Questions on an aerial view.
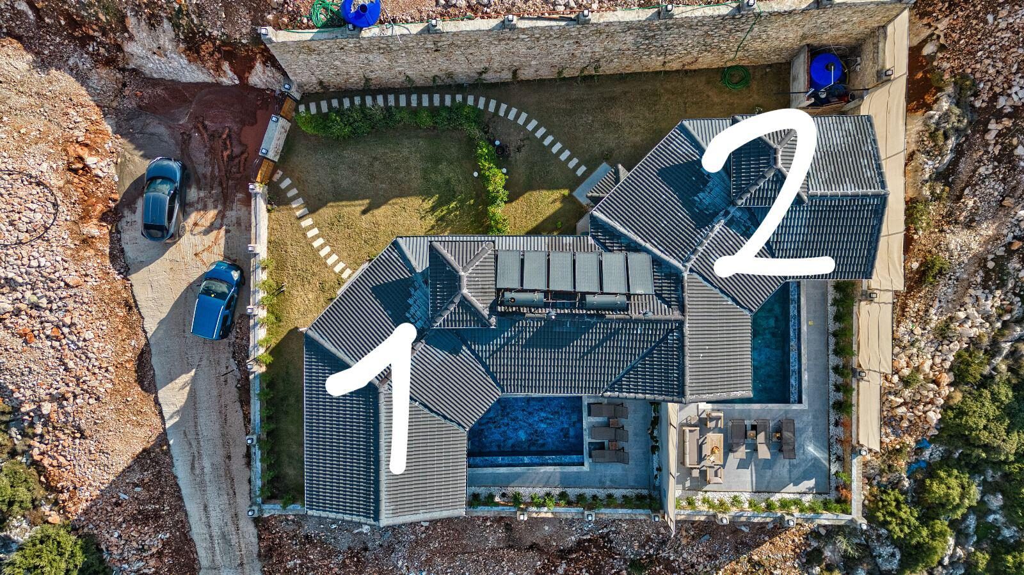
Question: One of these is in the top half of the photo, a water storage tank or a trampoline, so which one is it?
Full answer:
The one visible in the top half of the photo is a water storage tank.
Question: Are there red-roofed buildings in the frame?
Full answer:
No, the picture doesn't show any red-roofed building.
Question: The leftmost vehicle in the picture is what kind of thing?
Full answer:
In the photo, the leftmost vehicle shows up as an automobile.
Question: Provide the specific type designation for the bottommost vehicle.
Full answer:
I'd say the bottommost vehicle is a car.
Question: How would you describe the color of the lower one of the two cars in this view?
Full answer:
The lower one of the two cars looks blue in the image.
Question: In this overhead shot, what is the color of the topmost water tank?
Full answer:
The topmost water tank is blue.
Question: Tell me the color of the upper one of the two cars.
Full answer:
The upper one of the two cars looks blue in the image.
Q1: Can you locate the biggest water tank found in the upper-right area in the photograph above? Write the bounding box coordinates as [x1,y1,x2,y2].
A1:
[811,57,839,96]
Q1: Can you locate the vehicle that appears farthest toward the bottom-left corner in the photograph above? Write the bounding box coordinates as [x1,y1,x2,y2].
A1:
[192,258,248,346]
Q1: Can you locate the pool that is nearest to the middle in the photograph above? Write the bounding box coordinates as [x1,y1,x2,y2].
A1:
[466,396,588,472]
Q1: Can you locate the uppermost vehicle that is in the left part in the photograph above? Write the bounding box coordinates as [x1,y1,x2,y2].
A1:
[139,157,190,246]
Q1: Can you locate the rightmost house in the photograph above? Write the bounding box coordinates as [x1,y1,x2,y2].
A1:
[583,112,890,405]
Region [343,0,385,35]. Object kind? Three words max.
water tank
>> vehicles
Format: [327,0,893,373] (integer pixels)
[139,157,190,246]
[192,258,248,346]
